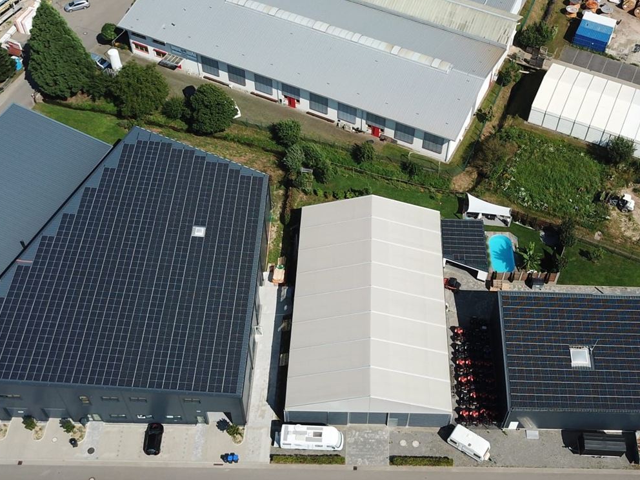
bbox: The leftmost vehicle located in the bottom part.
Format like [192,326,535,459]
[140,418,162,455]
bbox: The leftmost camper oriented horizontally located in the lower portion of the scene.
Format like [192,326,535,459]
[278,419,344,450]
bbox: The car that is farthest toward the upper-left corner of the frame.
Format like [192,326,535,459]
[60,0,92,13]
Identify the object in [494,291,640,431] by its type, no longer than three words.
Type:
building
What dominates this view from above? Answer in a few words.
buildings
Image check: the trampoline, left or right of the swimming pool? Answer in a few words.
to the right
